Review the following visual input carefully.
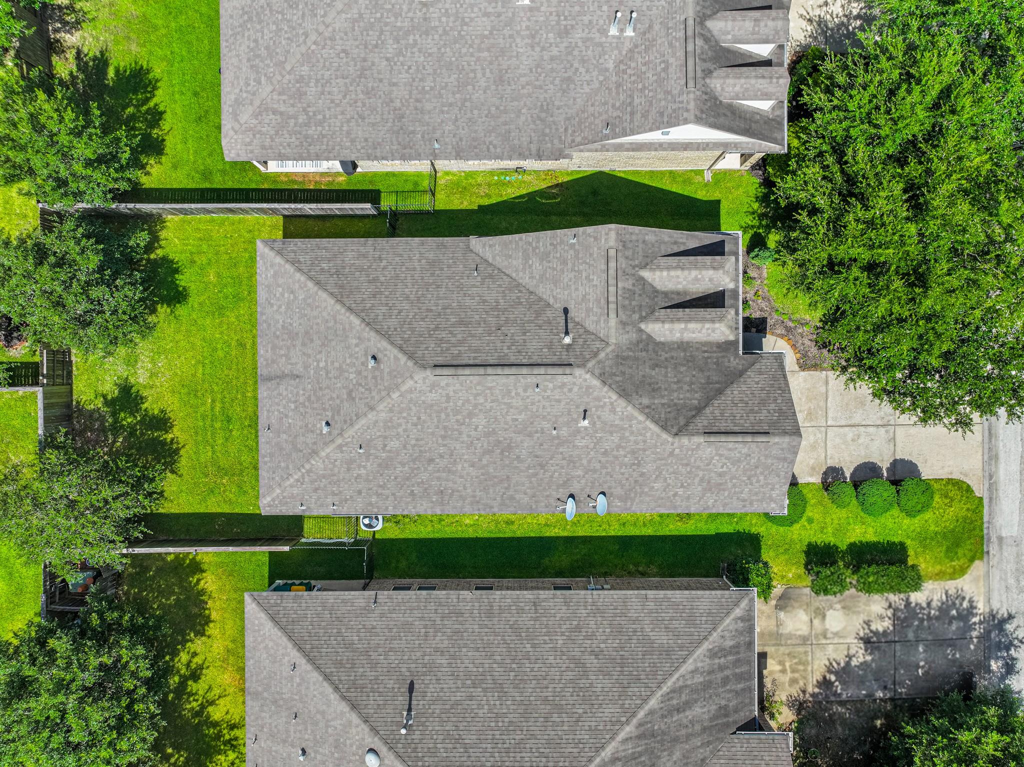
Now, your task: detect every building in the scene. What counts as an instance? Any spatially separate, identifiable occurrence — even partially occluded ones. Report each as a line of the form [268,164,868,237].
[243,572,798,767]
[218,0,790,176]
[256,224,804,516]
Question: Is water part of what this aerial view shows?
No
